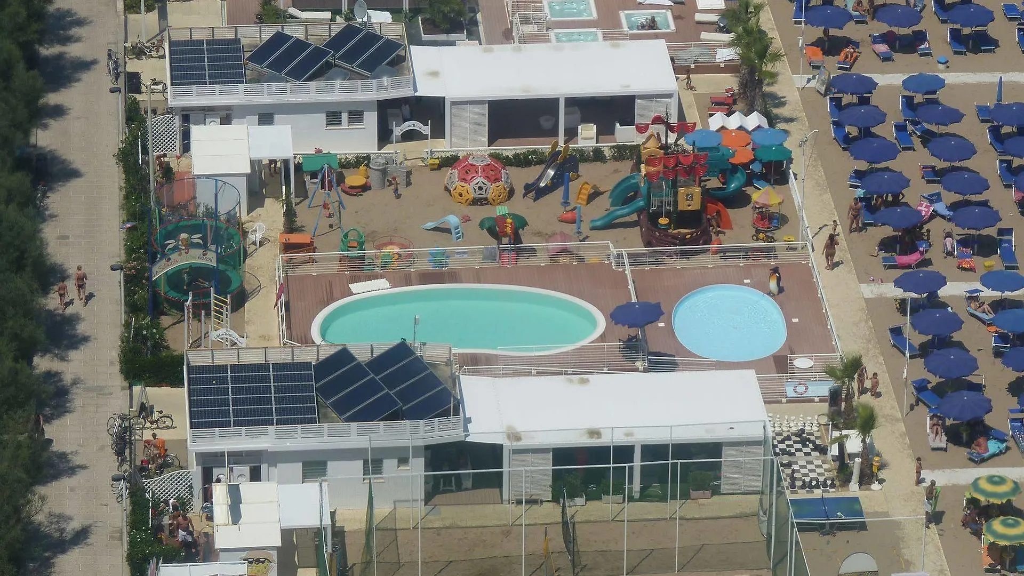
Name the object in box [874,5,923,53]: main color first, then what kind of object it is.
blue umbrella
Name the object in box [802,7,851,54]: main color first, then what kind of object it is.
blue umbrella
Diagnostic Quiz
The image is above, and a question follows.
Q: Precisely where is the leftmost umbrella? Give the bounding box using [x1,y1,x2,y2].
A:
[610,299,667,365]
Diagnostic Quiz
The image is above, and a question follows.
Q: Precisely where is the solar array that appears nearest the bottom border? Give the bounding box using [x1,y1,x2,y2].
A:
[189,353,318,433]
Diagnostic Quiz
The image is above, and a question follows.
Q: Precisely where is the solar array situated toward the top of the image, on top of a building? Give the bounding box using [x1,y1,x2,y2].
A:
[172,33,246,88]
